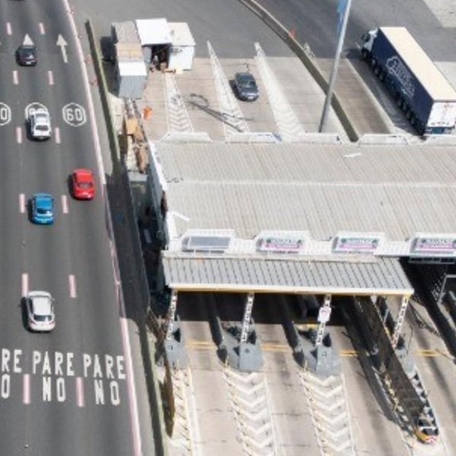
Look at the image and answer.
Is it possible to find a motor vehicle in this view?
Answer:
Yes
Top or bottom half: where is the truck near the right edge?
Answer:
top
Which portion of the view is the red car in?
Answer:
left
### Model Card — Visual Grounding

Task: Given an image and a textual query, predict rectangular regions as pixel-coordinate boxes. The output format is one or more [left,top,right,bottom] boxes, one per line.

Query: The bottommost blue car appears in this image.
[29,189,57,220]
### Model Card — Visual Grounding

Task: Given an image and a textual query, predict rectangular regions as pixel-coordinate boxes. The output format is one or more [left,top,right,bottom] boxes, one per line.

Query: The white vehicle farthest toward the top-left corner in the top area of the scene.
[29,109,53,136]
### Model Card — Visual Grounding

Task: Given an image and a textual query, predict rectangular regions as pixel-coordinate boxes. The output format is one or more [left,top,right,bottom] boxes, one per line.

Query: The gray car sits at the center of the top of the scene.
[237,69,262,97]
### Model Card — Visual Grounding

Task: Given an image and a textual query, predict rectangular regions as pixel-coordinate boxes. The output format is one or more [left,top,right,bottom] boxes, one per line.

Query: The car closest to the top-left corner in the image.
[16,44,38,65]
